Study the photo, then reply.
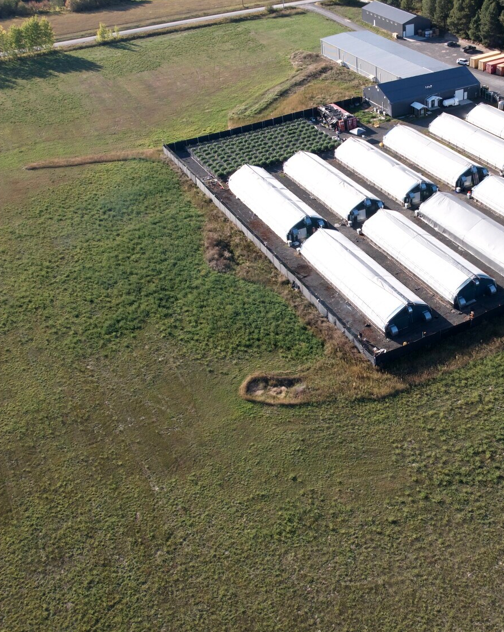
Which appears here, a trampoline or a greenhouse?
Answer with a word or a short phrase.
greenhouse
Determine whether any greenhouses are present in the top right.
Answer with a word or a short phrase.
Yes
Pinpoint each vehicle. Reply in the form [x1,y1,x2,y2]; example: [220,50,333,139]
[455,56,465,65]
[460,43,478,52]
[445,39,460,45]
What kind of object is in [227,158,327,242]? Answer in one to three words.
greenhouse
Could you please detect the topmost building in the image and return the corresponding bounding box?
[361,0,430,40]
